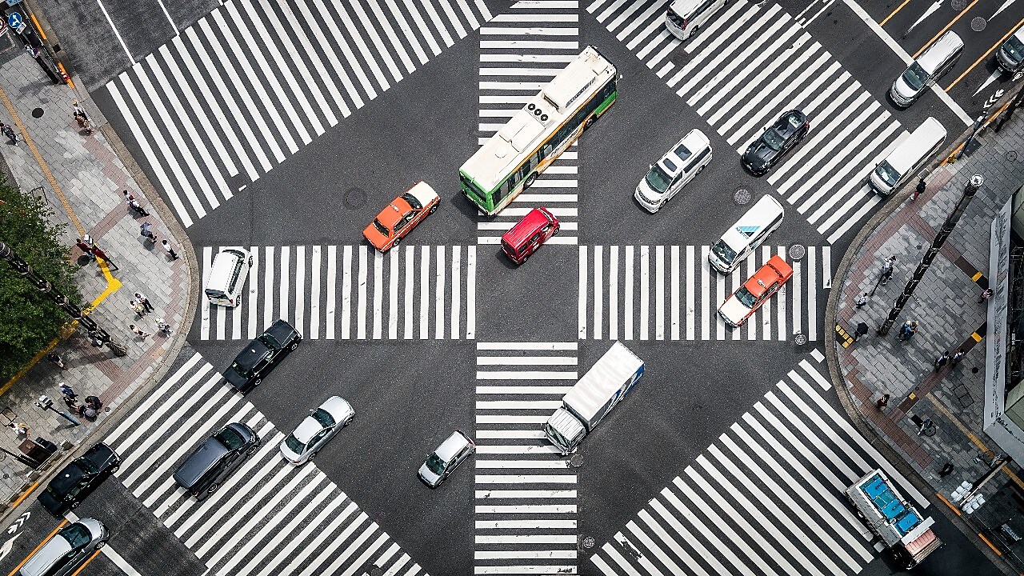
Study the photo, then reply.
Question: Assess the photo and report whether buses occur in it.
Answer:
Yes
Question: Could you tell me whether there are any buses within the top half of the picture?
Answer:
Yes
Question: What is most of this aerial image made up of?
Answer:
paved ground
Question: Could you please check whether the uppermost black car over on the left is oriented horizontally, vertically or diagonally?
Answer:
diagonally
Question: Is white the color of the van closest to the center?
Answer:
No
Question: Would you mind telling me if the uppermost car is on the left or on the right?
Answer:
right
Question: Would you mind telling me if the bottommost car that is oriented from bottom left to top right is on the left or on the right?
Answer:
left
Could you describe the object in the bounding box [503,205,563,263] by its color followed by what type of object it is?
red van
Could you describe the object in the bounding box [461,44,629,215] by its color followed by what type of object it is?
white bus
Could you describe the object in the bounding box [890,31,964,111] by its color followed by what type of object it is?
white car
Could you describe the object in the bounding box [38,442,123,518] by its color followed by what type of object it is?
black car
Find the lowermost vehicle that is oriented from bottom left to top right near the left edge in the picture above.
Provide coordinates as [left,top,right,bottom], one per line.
[25,517,109,576]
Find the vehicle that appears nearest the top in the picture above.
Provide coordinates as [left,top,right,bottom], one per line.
[667,0,732,39]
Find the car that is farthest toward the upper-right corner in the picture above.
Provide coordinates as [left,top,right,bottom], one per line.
[994,21,1024,73]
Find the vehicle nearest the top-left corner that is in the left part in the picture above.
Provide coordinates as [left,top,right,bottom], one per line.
[207,245,255,308]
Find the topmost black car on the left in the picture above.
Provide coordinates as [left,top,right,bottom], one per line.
[222,318,302,395]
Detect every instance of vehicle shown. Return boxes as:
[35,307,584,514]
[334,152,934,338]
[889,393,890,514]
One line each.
[717,254,795,330]
[176,421,260,496]
[363,179,442,253]
[890,31,964,111]
[281,396,356,467]
[537,339,644,458]
[741,109,810,177]
[222,318,302,395]
[503,205,563,263]
[994,21,1024,73]
[415,428,477,491]
[667,0,732,39]
[207,245,255,308]
[38,442,123,518]
[635,130,711,213]
[461,44,629,215]
[25,517,109,576]
[842,464,952,573]
[868,118,946,199]
[708,195,783,277]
